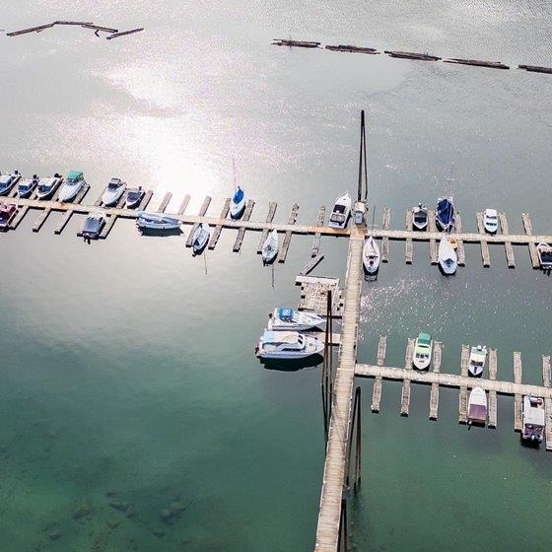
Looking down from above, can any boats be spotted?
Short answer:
Yes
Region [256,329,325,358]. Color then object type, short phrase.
white boat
